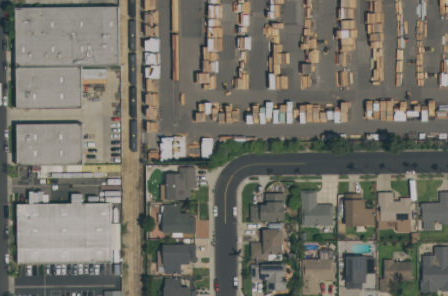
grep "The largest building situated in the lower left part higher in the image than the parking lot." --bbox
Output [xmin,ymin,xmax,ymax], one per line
[16,204,114,266]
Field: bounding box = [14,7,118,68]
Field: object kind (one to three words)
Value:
building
